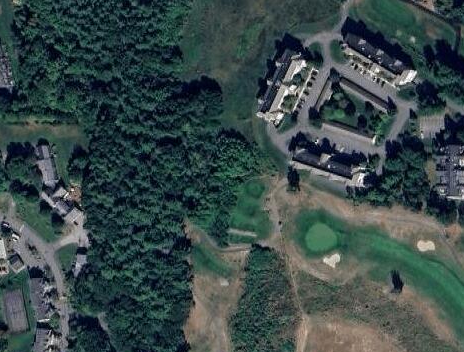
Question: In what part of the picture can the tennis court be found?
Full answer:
You can find the tennis court in the bottom left area of the picture.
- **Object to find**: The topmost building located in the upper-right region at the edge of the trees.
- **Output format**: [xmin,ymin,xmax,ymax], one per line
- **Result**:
[340,30,417,87]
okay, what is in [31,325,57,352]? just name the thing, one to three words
building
